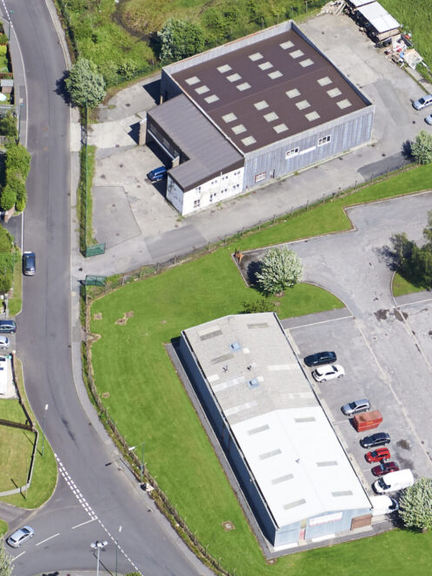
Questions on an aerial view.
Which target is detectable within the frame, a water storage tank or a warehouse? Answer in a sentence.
Visible in the photo is a warehouse.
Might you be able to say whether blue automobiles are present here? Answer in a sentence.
Yes, the frame does contain a blue automobile.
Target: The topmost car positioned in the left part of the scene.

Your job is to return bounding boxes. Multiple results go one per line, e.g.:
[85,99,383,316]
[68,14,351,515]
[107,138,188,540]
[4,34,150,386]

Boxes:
[144,166,171,183]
